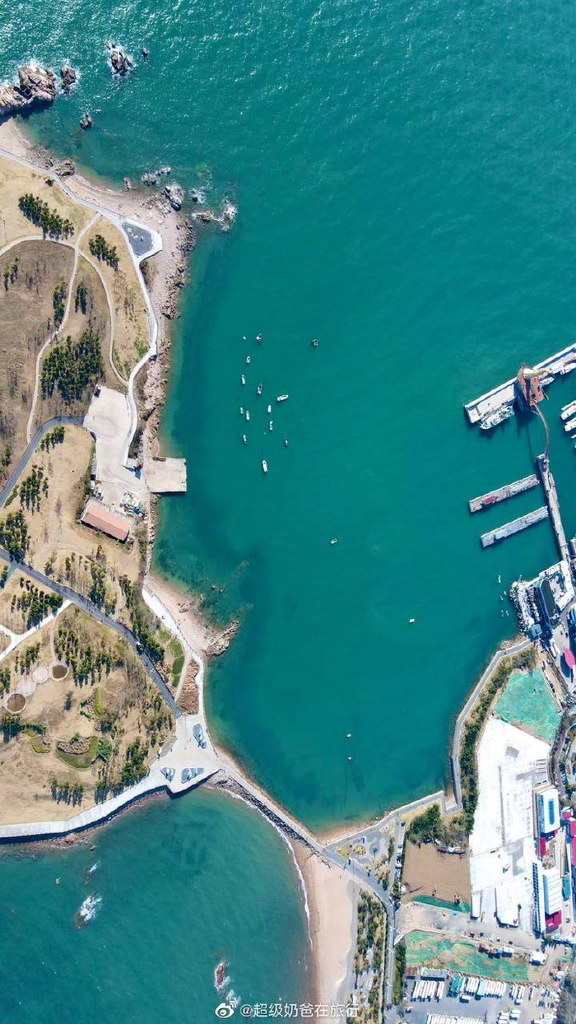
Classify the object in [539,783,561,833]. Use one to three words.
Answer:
building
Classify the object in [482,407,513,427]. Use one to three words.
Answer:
boat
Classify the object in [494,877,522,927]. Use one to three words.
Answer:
shed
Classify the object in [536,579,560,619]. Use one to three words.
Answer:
building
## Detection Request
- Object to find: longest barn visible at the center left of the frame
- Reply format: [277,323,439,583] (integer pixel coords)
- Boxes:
[81,504,130,540]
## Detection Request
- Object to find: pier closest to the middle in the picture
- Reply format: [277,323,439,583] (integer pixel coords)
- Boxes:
[144,457,187,494]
